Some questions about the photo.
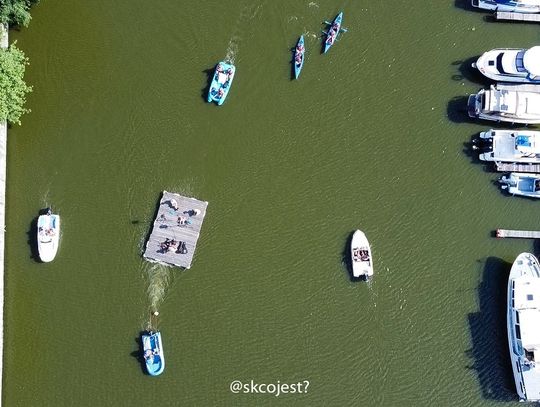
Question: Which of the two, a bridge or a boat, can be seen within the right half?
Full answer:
Visible within the right half is a boat.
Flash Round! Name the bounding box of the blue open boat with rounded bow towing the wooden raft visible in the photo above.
[141,331,162,378]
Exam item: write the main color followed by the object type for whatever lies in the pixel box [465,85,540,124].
white boat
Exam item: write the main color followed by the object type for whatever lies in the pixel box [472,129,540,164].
white boat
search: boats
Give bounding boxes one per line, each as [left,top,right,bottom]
[498,172,540,198]
[352,229,374,282]
[472,129,540,164]
[470,0,540,13]
[34,210,58,263]
[208,56,235,105]
[324,11,342,53]
[465,85,540,124]
[470,46,540,86]
[141,331,162,378]
[502,250,540,407]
